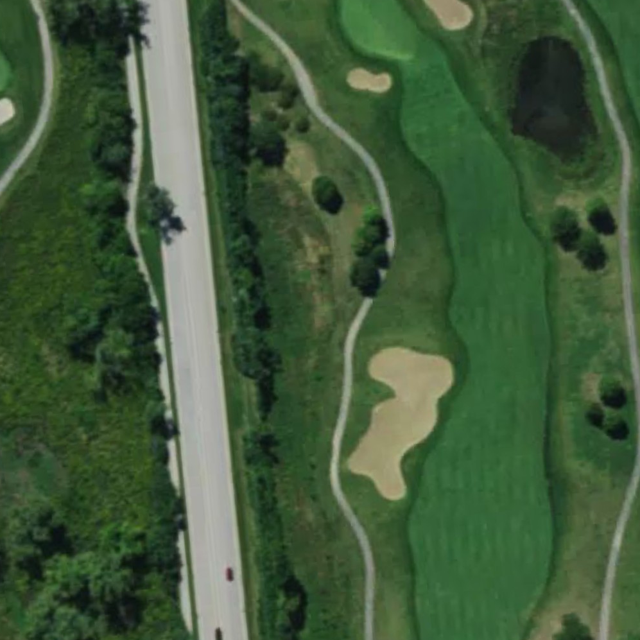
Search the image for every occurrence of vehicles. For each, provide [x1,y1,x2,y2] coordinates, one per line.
[226,567,233,582]
[215,628,222,640]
